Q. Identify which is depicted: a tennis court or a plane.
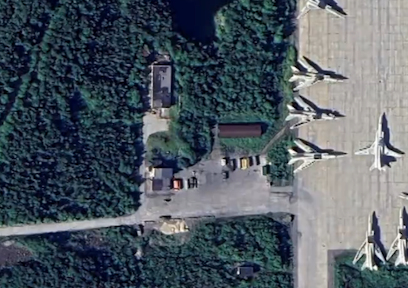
plane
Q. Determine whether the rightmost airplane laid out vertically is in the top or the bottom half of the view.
bottom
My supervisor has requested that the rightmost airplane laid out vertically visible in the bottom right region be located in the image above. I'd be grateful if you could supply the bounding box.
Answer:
[388,209,408,265]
